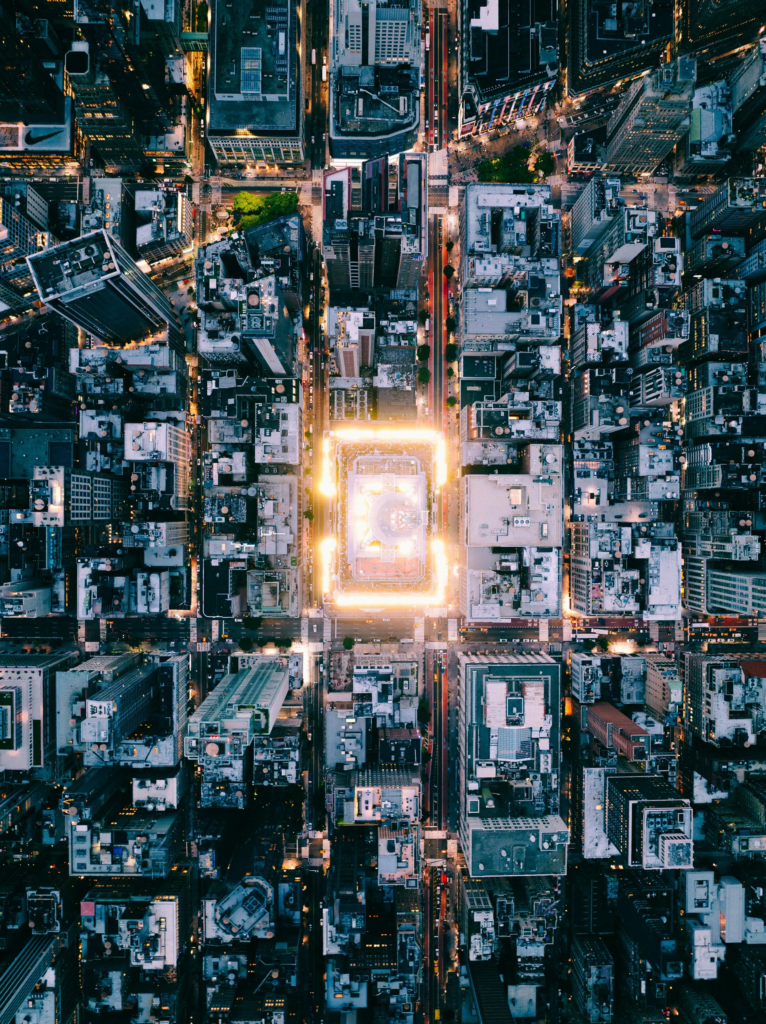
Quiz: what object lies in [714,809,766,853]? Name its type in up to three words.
building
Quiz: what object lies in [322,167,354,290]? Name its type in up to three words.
building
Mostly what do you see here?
buildings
